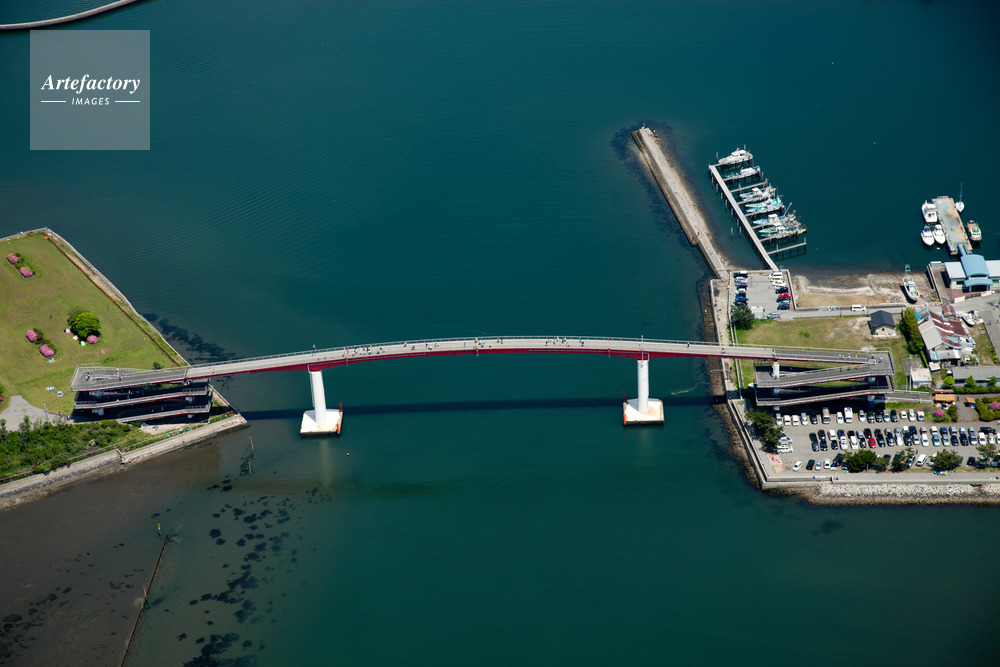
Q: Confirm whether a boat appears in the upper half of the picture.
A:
Yes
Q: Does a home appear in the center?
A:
No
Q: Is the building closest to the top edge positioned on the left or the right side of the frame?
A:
right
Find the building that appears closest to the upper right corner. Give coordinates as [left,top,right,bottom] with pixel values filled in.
[944,253,1000,292]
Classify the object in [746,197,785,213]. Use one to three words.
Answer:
boat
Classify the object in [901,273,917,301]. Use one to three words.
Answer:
boat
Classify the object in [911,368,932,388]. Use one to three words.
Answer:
shed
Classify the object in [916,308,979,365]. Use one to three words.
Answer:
building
